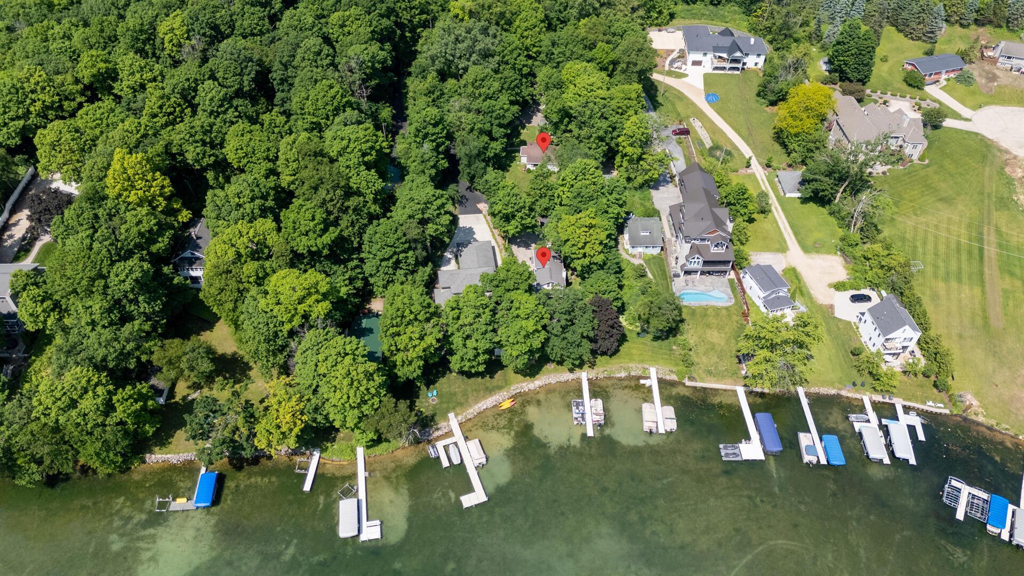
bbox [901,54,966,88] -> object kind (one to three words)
house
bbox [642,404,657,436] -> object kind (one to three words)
boat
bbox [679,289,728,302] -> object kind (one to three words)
swimming pool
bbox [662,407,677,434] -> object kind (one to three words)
boat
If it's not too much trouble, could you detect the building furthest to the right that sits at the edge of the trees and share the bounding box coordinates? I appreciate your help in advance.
[972,38,1024,77]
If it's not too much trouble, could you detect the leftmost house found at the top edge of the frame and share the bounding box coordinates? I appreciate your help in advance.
[679,21,767,77]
